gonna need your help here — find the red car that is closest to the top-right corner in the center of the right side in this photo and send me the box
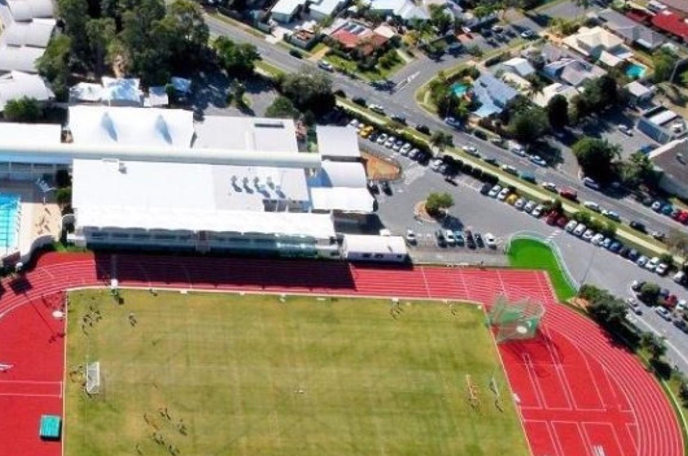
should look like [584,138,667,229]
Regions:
[559,187,578,200]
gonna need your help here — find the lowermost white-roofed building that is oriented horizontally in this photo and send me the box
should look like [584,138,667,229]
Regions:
[341,236,407,267]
